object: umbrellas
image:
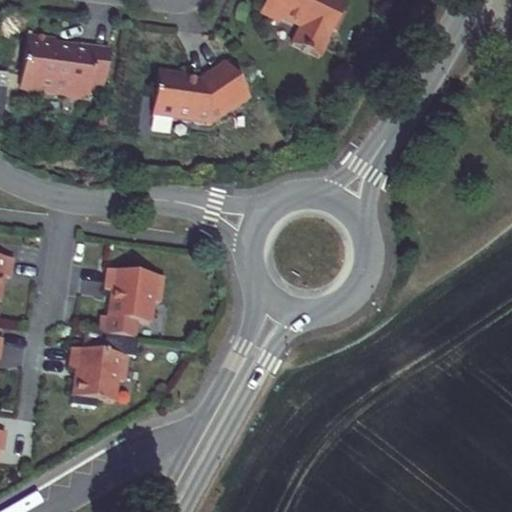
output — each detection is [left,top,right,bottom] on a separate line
[144,352,154,362]
[276,30,286,40]
[174,124,186,136]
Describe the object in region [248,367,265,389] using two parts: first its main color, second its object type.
white car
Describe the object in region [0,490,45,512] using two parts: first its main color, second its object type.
white bus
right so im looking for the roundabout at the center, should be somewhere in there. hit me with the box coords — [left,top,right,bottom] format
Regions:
[230,180,384,334]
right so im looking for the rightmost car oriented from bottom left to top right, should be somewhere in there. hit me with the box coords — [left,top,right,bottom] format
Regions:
[290,314,312,332]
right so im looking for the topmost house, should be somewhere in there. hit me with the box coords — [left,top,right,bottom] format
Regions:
[262,0,348,58]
